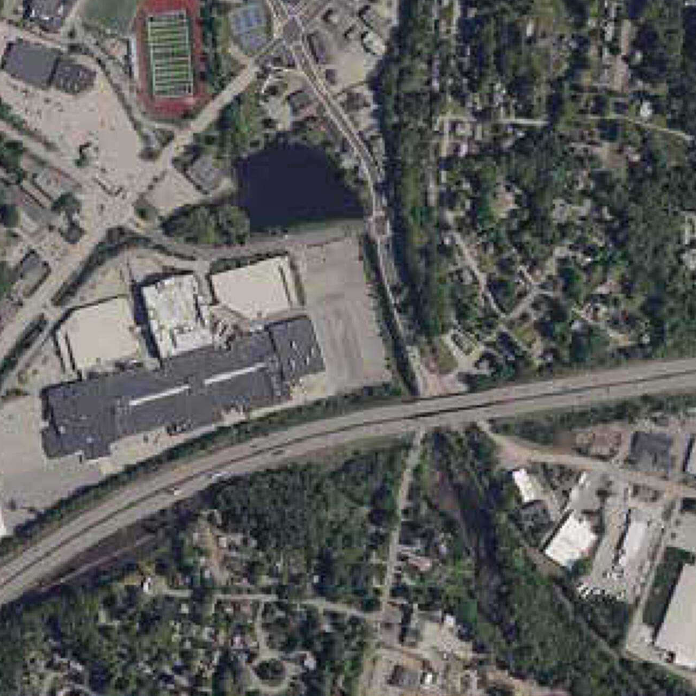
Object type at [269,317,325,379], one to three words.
building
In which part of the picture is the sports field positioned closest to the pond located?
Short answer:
top left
